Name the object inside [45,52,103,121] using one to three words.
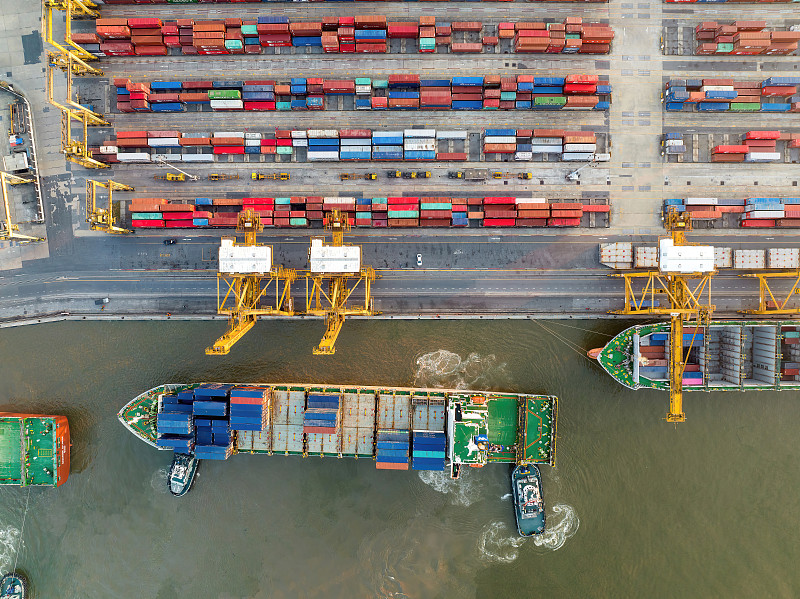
container crane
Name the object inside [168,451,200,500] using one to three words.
boat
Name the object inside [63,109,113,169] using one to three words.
container crane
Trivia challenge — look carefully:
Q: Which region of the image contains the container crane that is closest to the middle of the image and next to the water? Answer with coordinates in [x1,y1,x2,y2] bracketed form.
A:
[305,205,388,358]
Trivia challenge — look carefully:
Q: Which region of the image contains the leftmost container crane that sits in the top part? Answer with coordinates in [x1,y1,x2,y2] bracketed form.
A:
[0,166,48,243]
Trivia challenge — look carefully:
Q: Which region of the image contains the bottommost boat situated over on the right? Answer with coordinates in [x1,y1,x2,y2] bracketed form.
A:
[512,465,546,538]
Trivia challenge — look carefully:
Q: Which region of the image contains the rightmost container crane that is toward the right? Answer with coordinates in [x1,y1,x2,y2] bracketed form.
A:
[745,272,800,316]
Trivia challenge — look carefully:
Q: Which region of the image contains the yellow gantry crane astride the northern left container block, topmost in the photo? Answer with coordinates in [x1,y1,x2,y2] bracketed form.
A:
[45,0,103,63]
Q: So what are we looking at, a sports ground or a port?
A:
port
